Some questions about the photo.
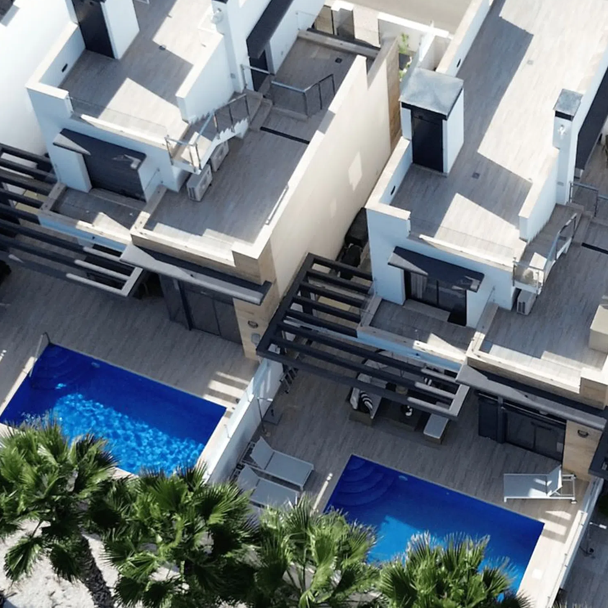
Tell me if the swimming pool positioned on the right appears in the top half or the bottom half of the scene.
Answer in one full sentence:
The swimming pool positioned on the right sits in the bottom half of the picture.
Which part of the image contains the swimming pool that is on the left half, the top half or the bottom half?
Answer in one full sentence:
The swimming pool that is on the left half is in the bottom half of the image.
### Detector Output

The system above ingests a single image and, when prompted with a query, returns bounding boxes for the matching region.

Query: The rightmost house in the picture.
[357,0,608,475]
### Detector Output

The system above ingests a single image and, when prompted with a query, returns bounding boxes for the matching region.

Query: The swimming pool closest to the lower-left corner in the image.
[0,339,223,481]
